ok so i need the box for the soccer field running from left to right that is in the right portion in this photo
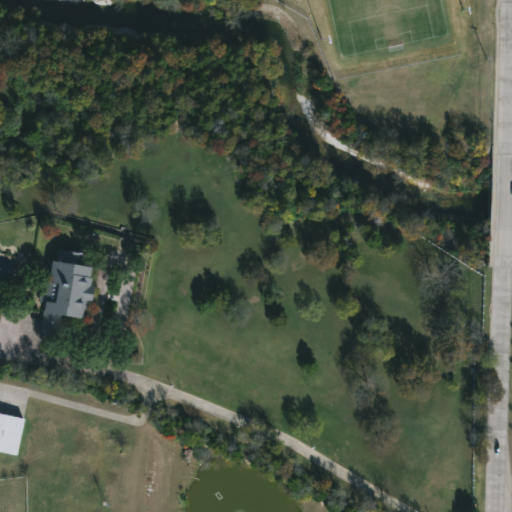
[328,0,448,58]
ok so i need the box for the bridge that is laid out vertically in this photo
[490,128,512,268]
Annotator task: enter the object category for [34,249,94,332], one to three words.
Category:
house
